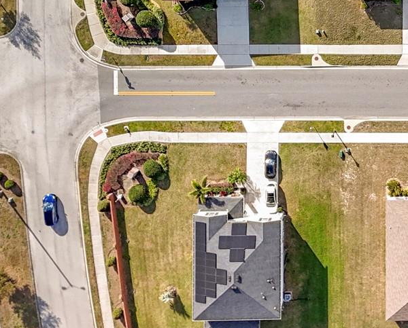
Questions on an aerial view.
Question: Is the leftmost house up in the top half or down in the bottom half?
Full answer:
It is in the bottom half that the leftmost house appears.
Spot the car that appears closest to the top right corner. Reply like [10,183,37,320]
[264,146,278,176]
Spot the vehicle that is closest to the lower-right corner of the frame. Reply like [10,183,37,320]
[265,176,279,209]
